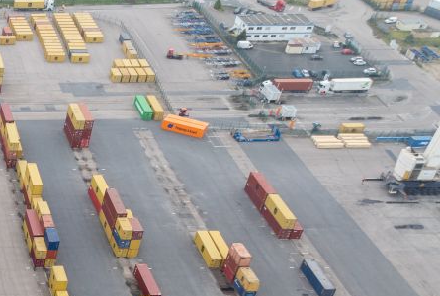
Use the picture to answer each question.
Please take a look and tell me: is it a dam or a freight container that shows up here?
freight container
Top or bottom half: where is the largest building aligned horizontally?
top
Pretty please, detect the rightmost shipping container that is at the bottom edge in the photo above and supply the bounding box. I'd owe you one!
[300,259,336,296]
